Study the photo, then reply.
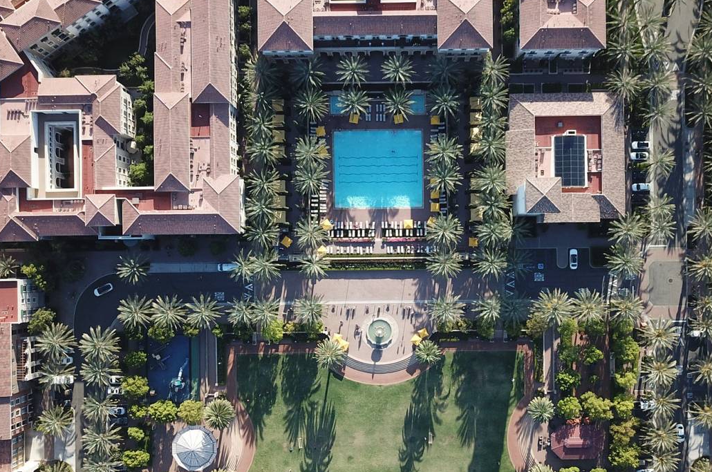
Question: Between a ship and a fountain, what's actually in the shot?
fountain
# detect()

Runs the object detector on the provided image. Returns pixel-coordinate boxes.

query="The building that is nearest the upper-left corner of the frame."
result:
[0,0,250,242]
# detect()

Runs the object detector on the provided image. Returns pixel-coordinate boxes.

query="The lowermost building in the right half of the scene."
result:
[551,424,597,452]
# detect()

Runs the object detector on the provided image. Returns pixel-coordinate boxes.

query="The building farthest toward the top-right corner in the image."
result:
[512,0,607,75]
